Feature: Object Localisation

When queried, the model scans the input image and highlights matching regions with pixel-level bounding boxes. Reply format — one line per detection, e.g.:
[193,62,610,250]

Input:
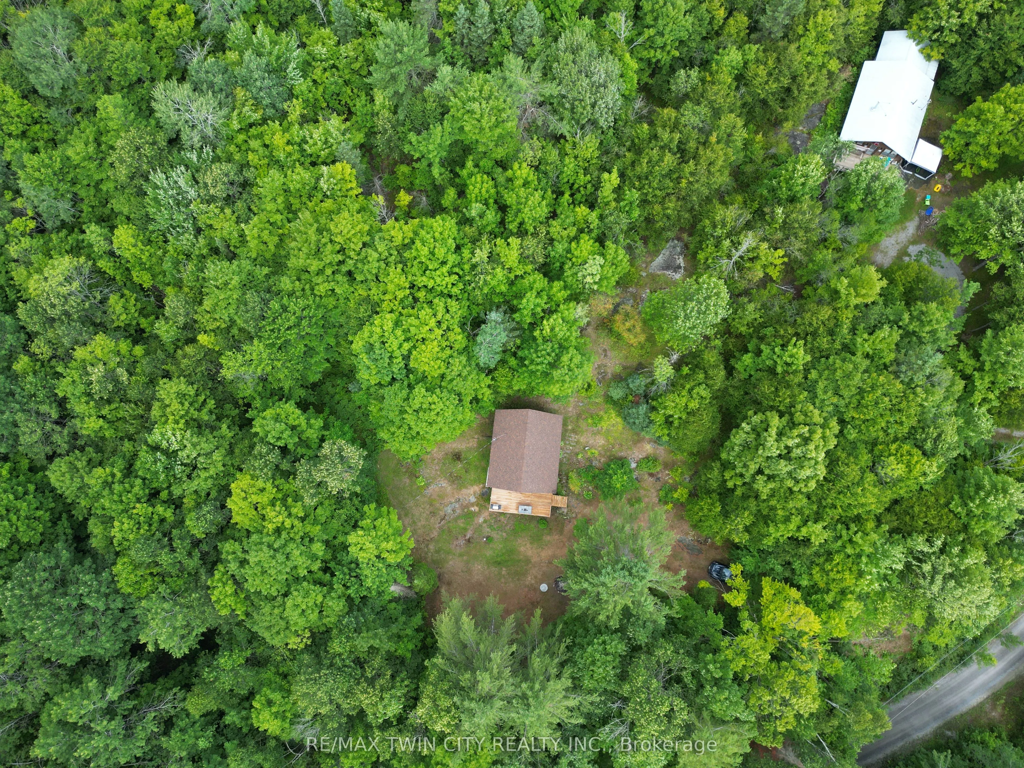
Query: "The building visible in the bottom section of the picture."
[486,409,568,517]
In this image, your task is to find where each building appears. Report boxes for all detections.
[486,409,568,517]
[830,30,945,185]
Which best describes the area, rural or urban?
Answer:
rural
